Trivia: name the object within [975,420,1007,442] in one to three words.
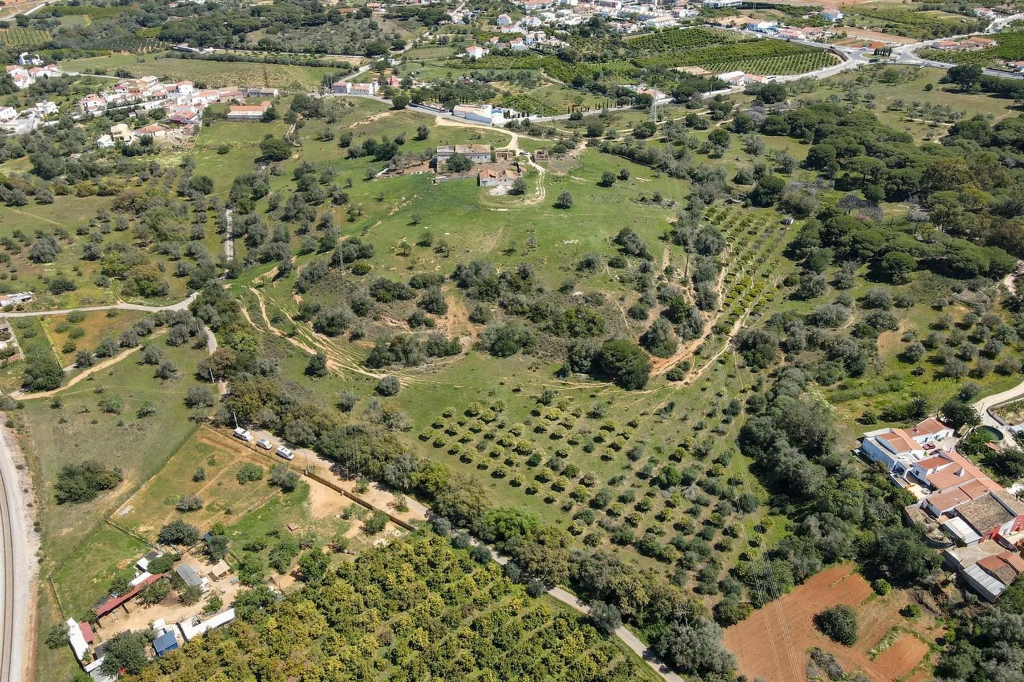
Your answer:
water tank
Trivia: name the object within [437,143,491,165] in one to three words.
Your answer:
house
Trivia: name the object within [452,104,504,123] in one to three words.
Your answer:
house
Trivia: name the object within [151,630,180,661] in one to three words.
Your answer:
shed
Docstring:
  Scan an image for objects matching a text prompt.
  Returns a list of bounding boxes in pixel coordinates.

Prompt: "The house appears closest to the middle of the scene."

[479,169,519,189]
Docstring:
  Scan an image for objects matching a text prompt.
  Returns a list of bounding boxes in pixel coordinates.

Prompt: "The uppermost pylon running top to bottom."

[650,82,663,121]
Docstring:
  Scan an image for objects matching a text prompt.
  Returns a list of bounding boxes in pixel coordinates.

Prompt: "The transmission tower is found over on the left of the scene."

[328,222,345,276]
